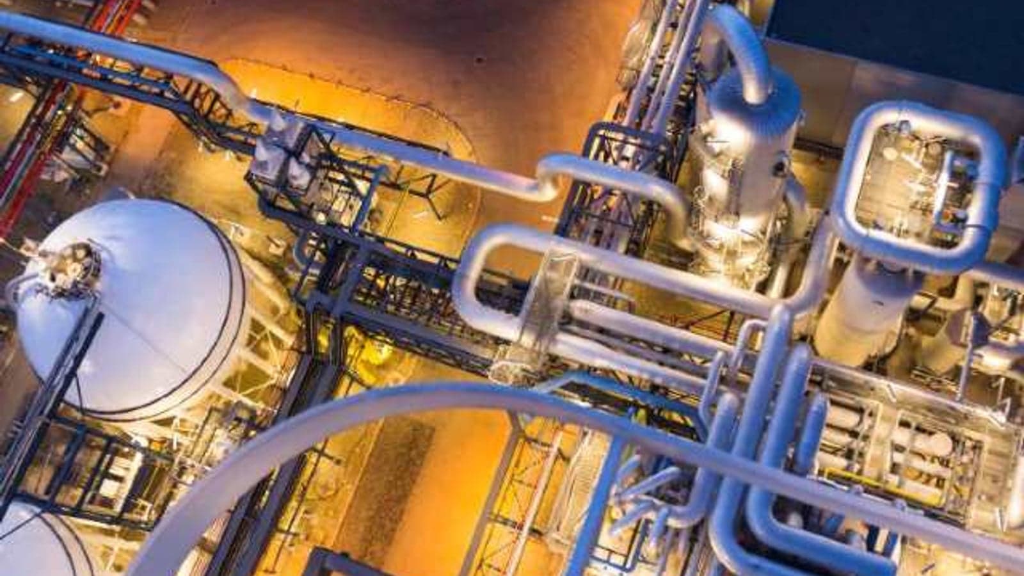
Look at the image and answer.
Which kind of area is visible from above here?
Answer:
industrial area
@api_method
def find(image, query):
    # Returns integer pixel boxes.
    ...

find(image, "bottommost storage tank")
[0,491,149,576]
